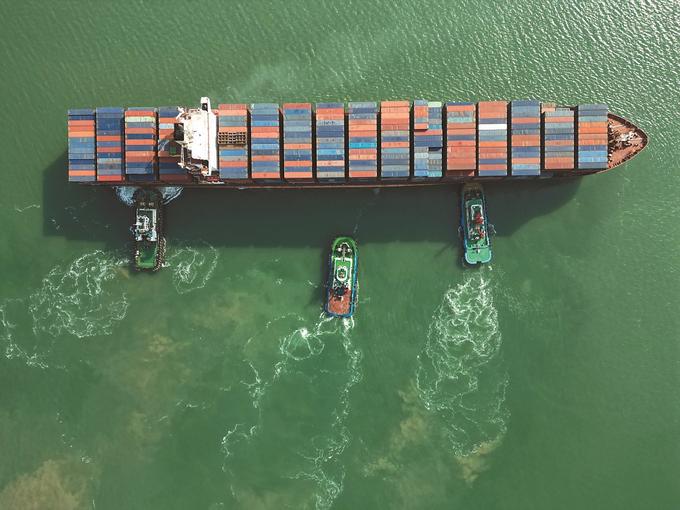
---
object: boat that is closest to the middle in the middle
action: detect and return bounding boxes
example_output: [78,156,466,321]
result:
[325,235,359,319]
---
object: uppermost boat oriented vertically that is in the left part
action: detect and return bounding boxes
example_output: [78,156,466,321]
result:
[132,188,165,271]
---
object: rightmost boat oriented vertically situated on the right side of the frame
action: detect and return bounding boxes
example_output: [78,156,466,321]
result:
[460,184,491,266]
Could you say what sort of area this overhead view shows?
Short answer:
port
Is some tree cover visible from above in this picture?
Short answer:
No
